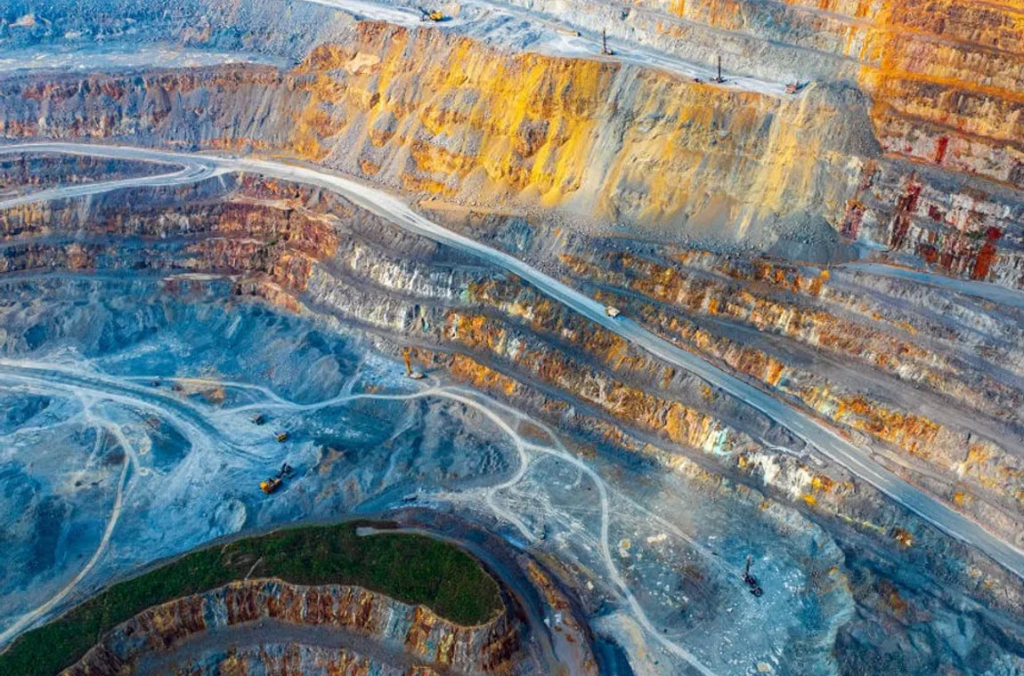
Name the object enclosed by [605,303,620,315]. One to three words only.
vehicle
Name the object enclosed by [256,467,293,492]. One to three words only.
work vehicle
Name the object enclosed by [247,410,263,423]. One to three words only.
vehicle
